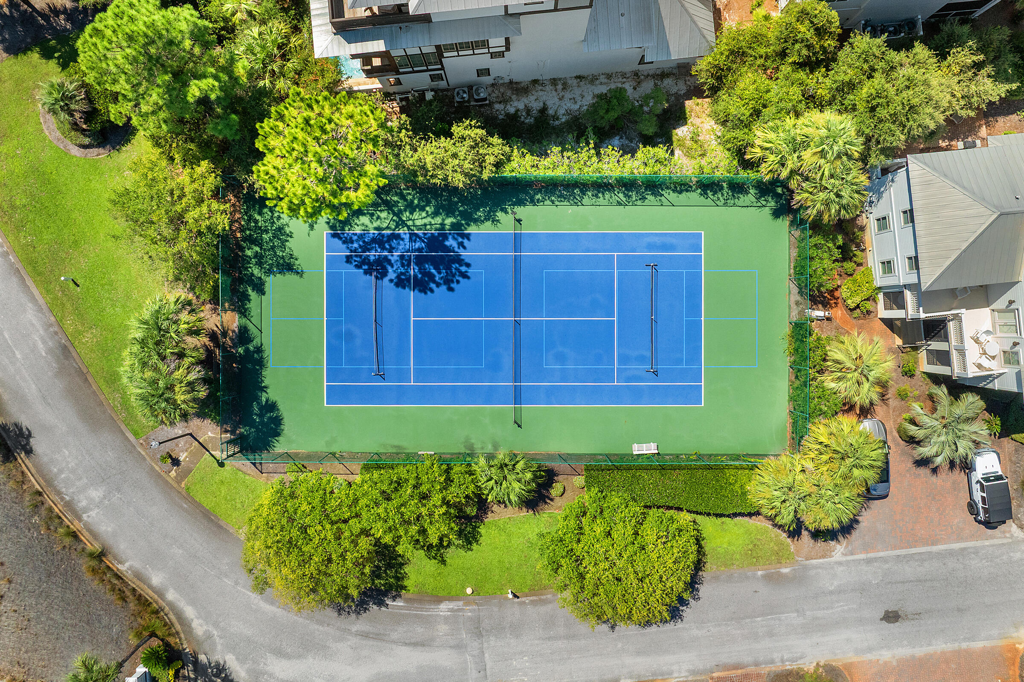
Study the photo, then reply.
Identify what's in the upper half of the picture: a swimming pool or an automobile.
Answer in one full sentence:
It is a swimming pool that can be seen in the upper half of the picture.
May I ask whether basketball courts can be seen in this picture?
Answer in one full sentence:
No, the frame has no basketball court in it.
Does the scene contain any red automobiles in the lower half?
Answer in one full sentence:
No, I can find no red automobile in the lower half.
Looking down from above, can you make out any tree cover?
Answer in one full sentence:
Yes, there is tree cover in the image.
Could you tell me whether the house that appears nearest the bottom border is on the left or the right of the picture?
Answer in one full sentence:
You can find the house that appears nearest the bottom border on the right side of the picture.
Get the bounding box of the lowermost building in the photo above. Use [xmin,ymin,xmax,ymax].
[848,132,1024,383]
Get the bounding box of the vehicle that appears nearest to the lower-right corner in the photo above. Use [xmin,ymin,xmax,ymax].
[965,450,1017,528]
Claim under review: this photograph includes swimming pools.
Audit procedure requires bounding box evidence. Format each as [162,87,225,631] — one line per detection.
[301,9,380,98]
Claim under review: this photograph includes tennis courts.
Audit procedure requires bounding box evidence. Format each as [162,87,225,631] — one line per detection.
[239,186,788,452]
